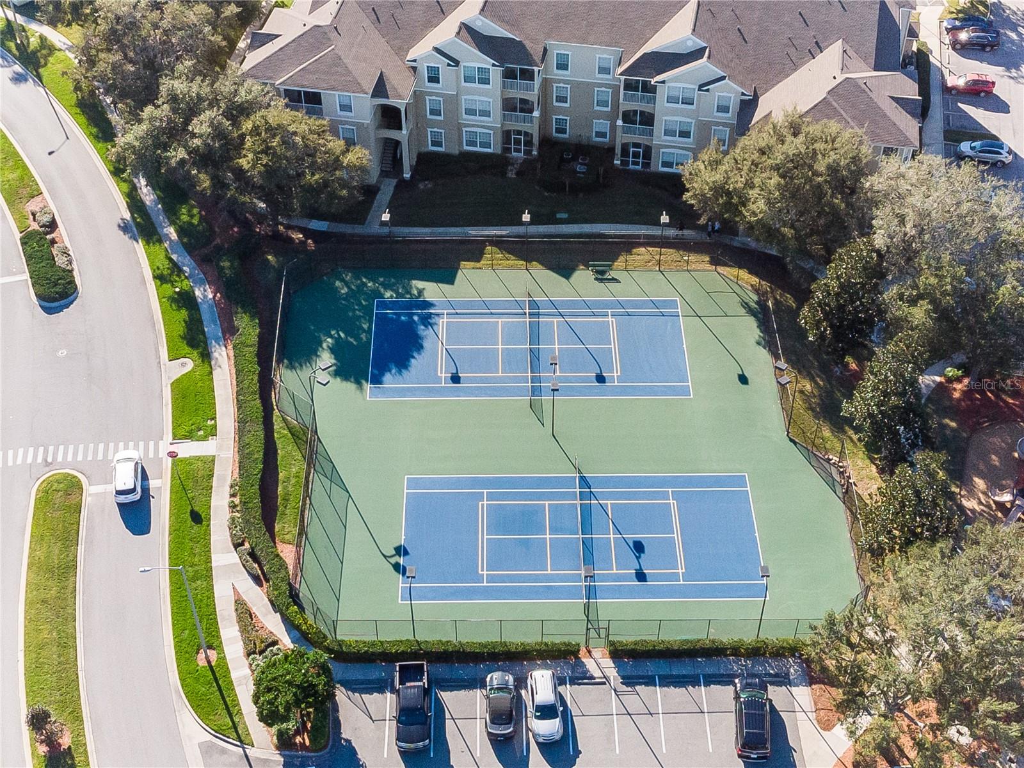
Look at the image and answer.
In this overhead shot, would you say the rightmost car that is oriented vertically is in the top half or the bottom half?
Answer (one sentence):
The rightmost car that is oriented vertically sits in the bottom half of the picture.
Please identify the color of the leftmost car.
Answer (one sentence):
The leftmost car looks white in the image.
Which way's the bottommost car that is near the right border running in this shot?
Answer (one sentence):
I'd say the bottommost car that is near the right border is aligned from left to right in the picture.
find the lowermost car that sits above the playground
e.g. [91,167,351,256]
[958,136,1015,161]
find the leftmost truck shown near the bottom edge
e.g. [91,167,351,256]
[391,656,432,748]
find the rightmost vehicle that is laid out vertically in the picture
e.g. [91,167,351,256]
[732,670,777,752]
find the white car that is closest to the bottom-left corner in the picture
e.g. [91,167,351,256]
[110,444,143,501]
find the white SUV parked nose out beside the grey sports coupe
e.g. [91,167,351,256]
[528,662,565,734]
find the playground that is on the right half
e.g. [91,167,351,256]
[920,374,1024,554]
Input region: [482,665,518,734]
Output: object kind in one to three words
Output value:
car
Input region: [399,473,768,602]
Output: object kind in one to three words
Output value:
tennis court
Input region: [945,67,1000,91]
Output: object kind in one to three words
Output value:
car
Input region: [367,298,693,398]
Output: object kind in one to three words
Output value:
tennis court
